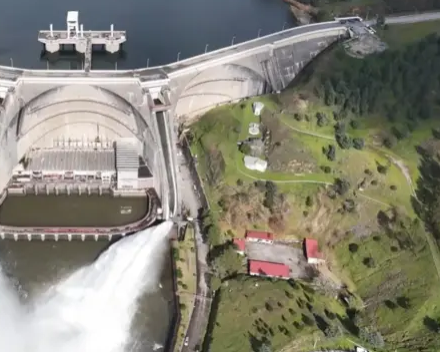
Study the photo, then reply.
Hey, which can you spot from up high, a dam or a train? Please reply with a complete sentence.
This aerial view contains a dam.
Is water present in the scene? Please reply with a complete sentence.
Yes, the picture does contain water.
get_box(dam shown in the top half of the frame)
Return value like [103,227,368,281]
[0,18,360,230]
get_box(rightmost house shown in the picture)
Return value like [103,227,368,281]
[305,238,323,263]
